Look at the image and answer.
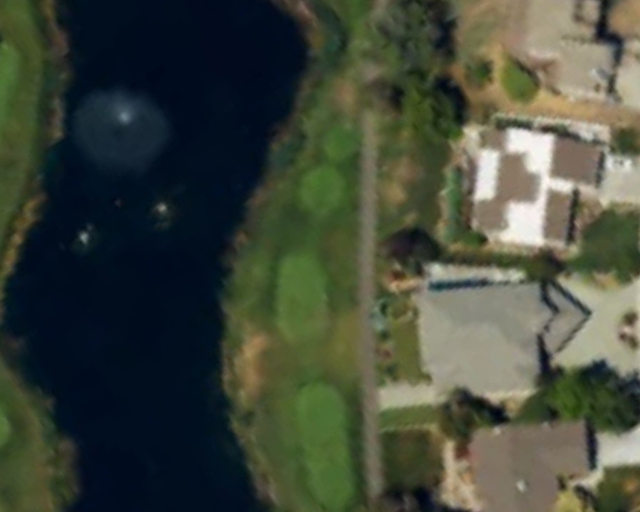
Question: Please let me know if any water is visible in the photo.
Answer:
Yes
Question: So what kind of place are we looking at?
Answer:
residential area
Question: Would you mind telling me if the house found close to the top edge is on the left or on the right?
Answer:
right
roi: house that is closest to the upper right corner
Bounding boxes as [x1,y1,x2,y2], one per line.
[517,0,620,95]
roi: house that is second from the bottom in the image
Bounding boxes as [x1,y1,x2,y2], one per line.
[420,282,591,394]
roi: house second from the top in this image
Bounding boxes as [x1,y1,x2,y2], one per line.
[472,126,608,246]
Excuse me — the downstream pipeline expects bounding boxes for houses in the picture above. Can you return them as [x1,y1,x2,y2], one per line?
[517,0,620,95]
[420,282,591,394]
[472,126,608,246]
[472,425,593,512]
